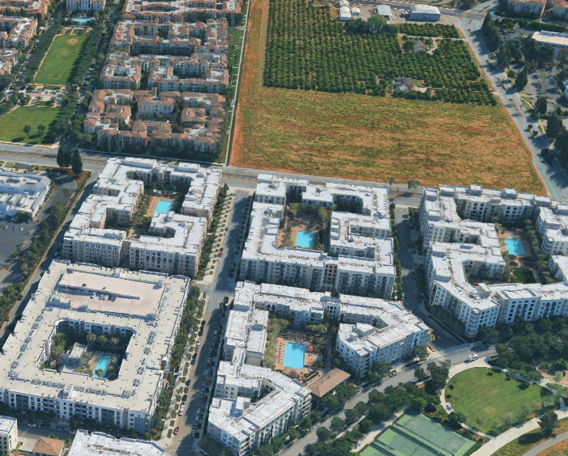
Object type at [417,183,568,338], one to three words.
building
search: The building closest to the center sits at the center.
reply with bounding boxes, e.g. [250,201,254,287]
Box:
[238,173,396,297]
